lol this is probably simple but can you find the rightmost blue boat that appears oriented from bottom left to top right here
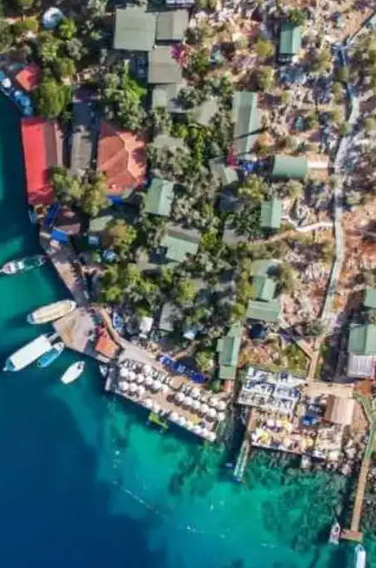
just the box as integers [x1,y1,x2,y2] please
[37,344,63,370]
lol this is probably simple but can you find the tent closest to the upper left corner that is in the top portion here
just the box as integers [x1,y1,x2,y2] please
[41,7,63,29]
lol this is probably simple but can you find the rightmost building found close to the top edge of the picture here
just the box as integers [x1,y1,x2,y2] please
[275,22,302,56]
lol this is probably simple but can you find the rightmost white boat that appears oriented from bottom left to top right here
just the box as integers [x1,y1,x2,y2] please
[61,358,86,383]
